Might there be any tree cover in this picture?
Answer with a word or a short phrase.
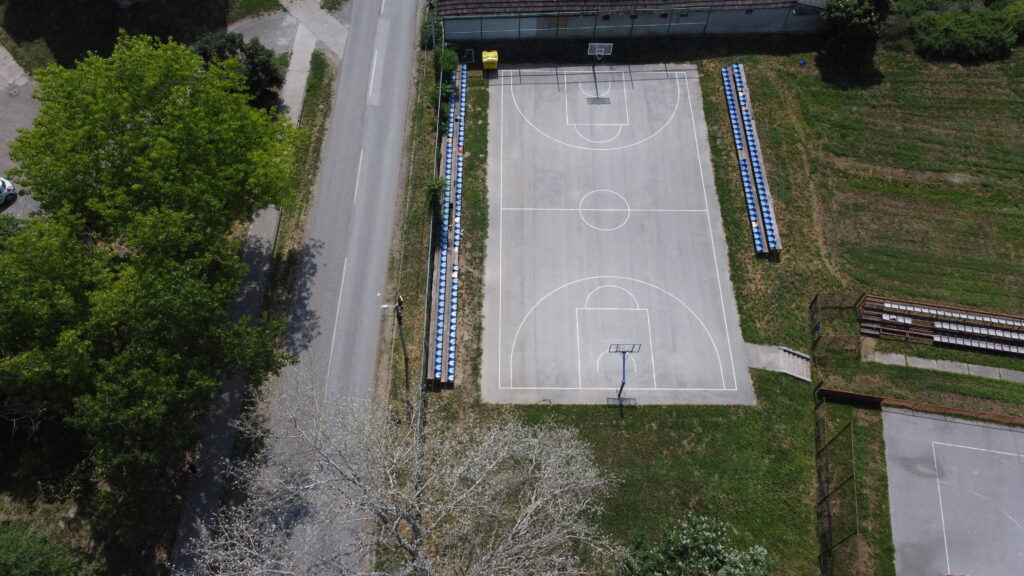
Yes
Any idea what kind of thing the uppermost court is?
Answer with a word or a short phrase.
basketball court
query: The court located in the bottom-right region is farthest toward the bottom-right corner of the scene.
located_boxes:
[883,410,1024,576]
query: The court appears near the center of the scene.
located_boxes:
[481,61,756,405]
